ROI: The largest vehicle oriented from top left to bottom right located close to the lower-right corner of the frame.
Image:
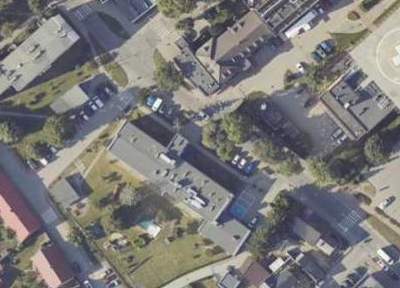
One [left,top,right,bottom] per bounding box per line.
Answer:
[376,247,392,263]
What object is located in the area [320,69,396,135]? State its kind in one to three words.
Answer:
building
